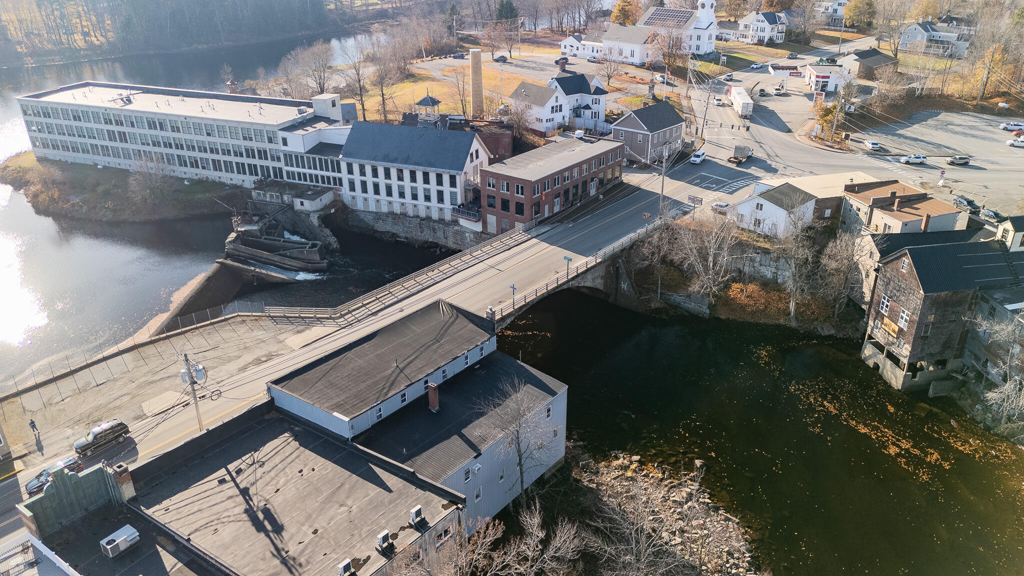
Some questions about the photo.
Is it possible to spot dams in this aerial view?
Yes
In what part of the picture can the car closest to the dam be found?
bottom left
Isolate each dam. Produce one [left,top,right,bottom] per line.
[149,259,303,334]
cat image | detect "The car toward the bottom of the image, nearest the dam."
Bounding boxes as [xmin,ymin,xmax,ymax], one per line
[66,419,134,464]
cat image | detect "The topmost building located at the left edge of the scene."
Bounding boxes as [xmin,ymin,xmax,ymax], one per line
[18,77,344,192]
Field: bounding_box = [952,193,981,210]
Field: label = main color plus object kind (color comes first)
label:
gray car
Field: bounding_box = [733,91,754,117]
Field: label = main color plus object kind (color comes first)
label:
white truck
